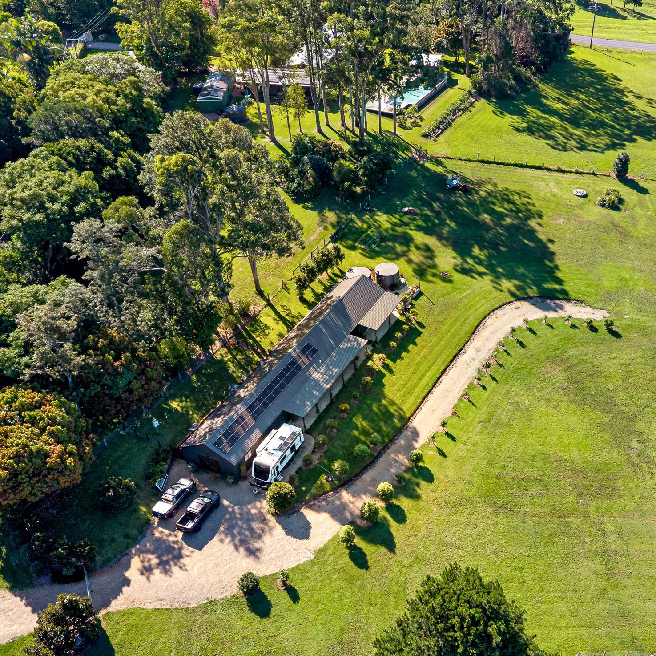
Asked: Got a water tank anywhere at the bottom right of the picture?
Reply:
No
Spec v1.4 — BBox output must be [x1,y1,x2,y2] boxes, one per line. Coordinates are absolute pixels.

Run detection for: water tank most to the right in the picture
[375,262,400,289]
